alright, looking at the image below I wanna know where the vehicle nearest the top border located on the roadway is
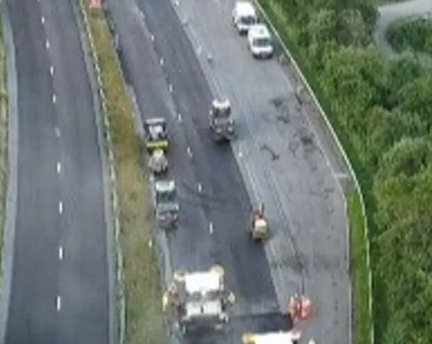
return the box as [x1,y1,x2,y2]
[233,5,256,34]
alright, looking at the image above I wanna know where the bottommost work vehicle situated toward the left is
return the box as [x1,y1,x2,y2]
[152,181,178,230]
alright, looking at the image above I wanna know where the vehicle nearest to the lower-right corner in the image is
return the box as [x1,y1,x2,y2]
[246,204,271,239]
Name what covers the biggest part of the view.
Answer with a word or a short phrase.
paved ground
